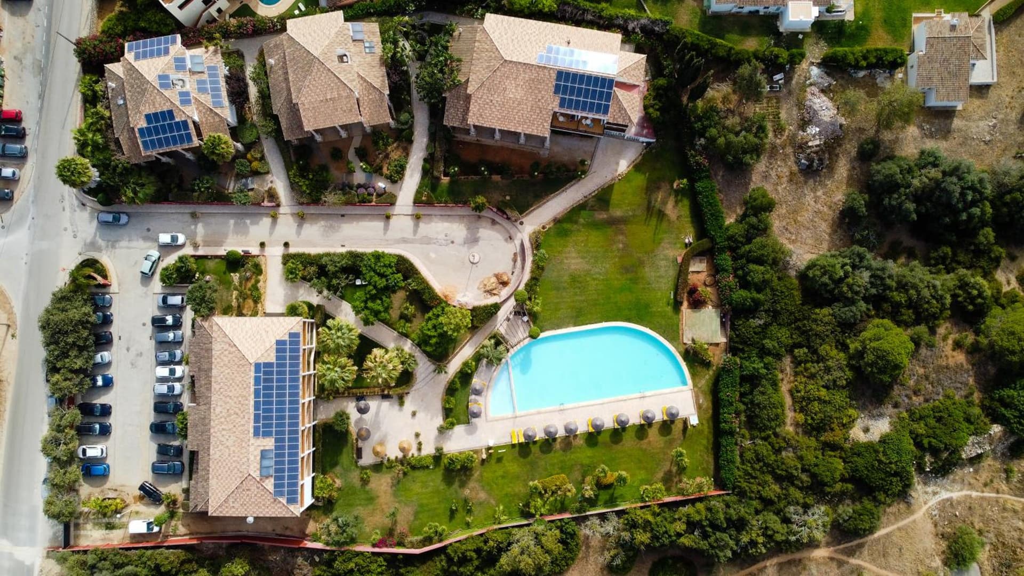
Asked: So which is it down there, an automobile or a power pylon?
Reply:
automobile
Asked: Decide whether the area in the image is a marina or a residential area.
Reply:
residential area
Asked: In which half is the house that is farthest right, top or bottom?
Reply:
top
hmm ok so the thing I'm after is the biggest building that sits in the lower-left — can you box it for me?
[186,316,327,524]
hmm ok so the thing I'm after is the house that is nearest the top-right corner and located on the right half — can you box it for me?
[900,11,1003,108]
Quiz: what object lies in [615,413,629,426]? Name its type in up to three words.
umbrella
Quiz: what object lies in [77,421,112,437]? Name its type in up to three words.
car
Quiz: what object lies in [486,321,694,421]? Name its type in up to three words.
swimming pool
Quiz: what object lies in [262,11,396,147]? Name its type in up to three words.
house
